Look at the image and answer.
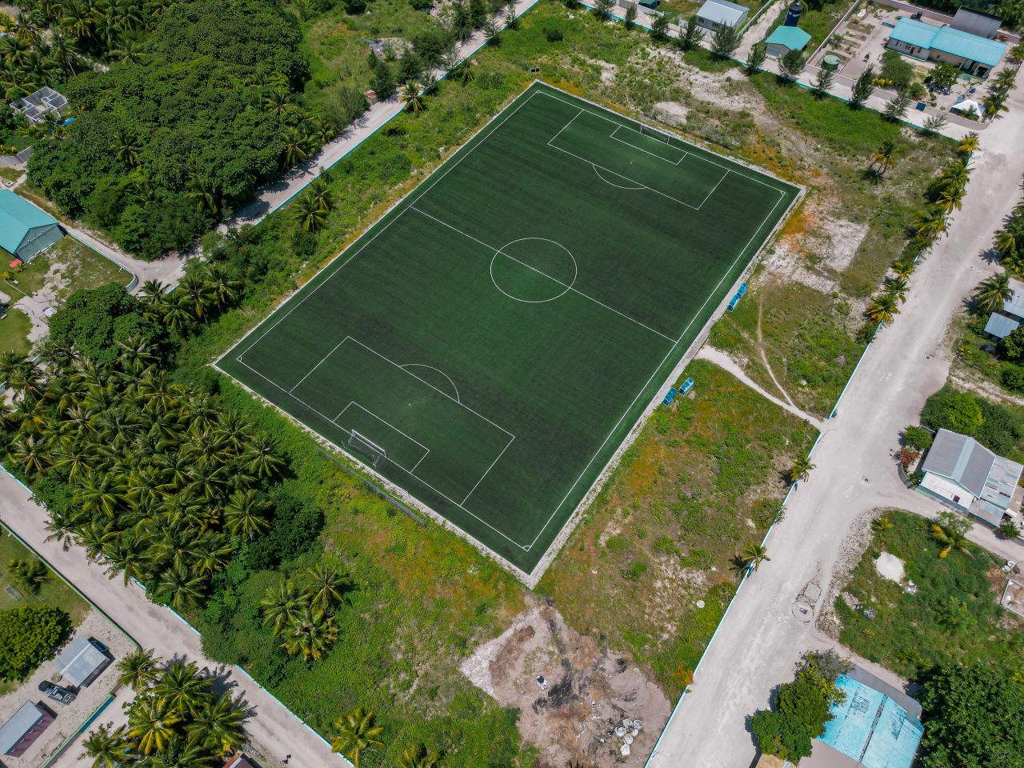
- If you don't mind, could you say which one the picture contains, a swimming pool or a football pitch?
football pitch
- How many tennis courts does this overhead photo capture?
0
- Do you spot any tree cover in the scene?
Yes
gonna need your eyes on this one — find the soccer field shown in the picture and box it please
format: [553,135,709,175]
[211,81,805,591]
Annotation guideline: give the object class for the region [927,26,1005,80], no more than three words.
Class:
house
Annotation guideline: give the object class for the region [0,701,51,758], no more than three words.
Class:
shed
